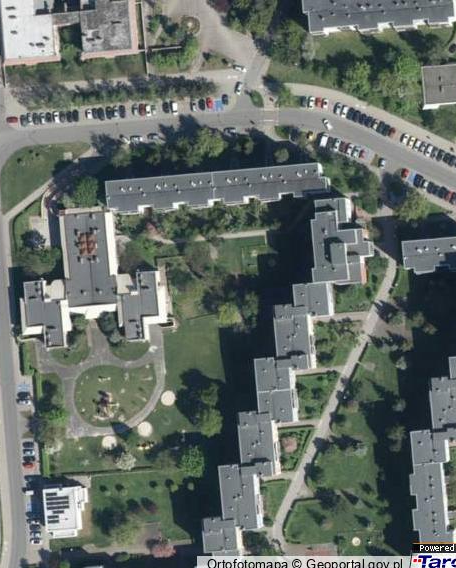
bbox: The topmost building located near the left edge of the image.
[2,0,142,69]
